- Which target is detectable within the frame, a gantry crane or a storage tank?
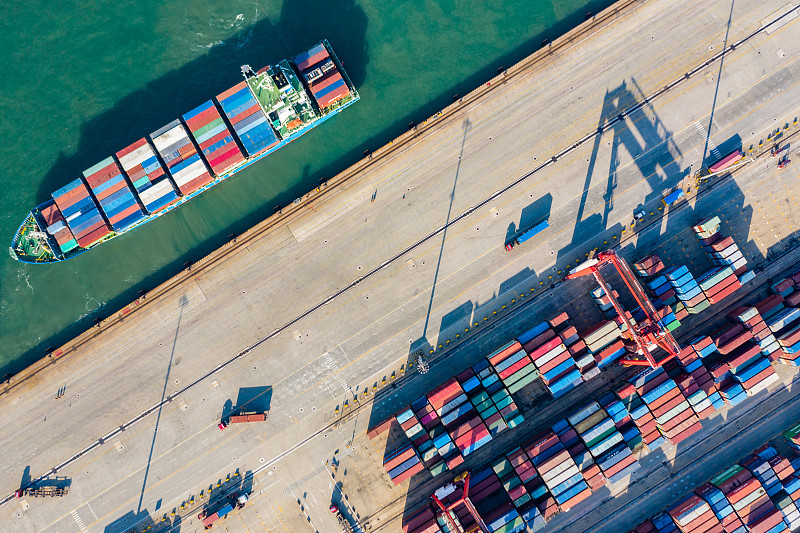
gantry crane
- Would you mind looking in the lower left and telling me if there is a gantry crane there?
No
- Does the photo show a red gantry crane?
Yes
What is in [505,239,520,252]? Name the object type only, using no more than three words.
vehicle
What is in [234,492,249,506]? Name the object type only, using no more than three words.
vehicle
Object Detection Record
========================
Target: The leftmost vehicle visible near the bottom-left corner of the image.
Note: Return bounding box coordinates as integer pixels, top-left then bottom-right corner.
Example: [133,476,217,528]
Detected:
[15,486,67,499]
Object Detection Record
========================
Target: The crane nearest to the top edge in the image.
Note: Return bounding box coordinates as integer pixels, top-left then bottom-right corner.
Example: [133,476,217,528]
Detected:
[556,251,684,370]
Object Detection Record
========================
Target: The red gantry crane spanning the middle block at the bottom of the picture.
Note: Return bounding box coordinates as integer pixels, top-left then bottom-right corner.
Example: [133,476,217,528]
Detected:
[425,467,498,533]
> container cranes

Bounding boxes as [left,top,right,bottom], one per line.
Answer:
[425,467,498,533]
[556,251,684,370]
